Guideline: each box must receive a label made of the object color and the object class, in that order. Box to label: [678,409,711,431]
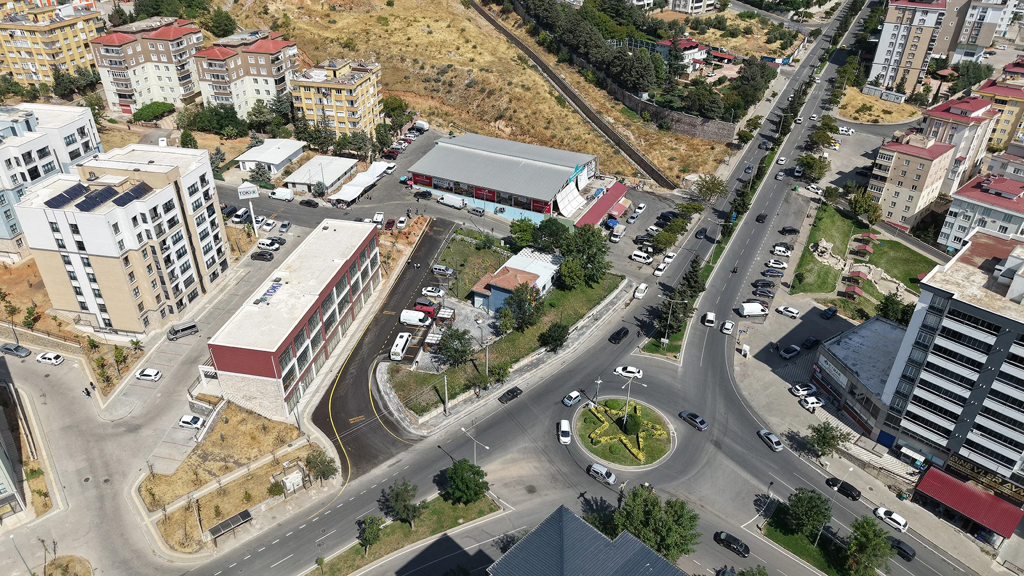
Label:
gray car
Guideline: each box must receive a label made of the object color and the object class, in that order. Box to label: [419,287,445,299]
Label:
white vehicle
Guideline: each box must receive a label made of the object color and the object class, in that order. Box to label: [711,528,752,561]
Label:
black car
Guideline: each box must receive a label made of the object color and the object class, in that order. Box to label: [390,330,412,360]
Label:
white vehicle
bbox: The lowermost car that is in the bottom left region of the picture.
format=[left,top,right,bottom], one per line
[175,414,207,430]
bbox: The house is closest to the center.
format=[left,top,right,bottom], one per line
[470,247,568,305]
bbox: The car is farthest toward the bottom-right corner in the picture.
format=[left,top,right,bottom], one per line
[891,535,924,567]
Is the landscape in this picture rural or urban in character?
urban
